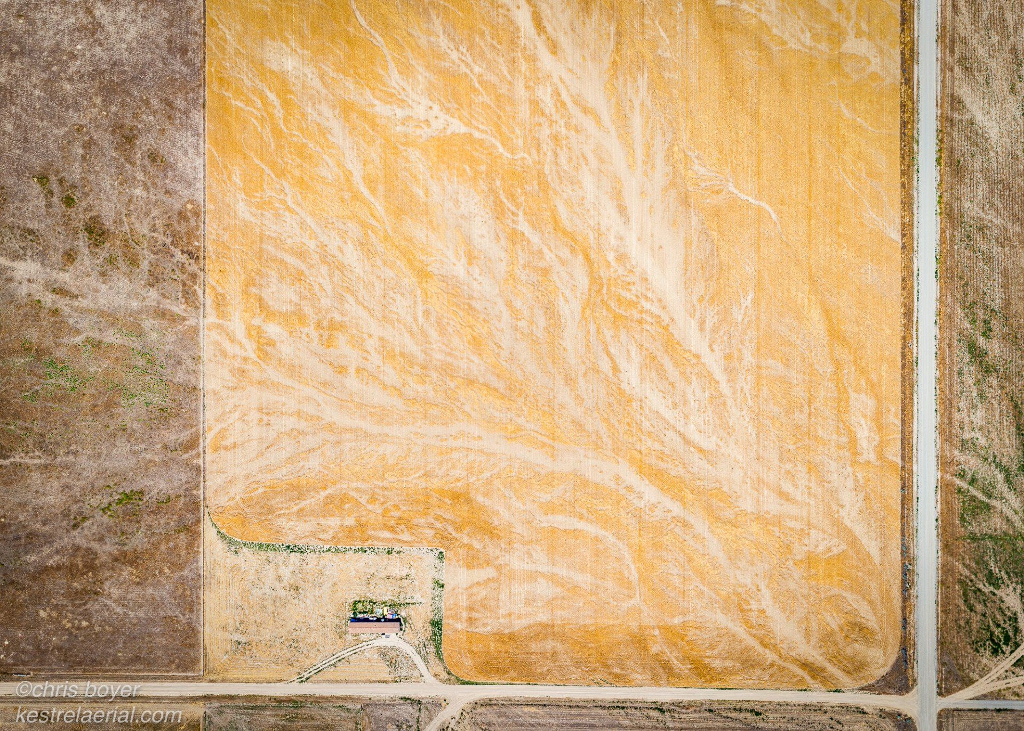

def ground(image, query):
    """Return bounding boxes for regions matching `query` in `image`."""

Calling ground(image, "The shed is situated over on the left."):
[348,621,401,634]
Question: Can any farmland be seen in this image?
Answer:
Yes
